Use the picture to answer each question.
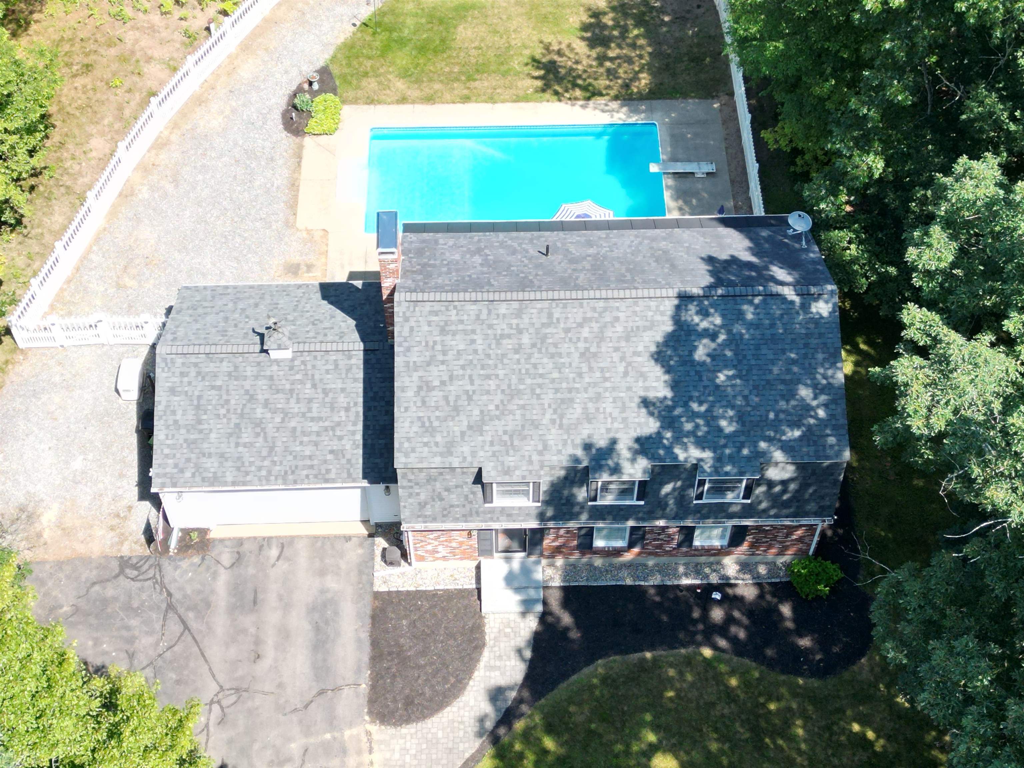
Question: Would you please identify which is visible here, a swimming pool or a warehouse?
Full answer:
The one in the frame is a swimming pool.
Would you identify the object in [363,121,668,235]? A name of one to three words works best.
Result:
swimming pool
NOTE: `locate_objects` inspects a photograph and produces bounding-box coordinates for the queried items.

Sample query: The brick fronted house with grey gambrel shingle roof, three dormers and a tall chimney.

[375,211,848,569]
